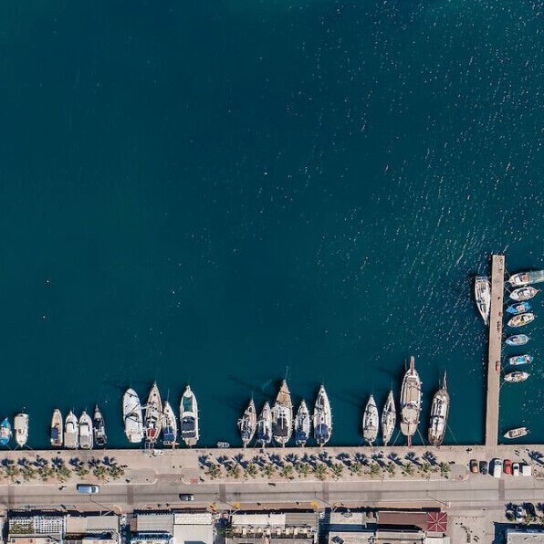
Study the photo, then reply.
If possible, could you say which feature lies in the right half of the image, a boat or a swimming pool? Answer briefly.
boat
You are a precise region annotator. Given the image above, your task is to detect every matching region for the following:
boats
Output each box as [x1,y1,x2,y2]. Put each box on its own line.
[505,334,530,346]
[49,406,65,448]
[155,401,177,448]
[0,416,13,446]
[506,302,531,312]
[506,314,535,327]
[15,413,30,447]
[123,384,144,445]
[136,381,163,447]
[509,355,533,365]
[180,385,200,447]
[294,400,310,447]
[78,411,95,448]
[381,391,397,446]
[510,286,537,301]
[216,441,230,447]
[474,276,490,325]
[504,371,529,382]
[268,379,294,447]
[362,395,379,446]
[92,403,108,447]
[503,428,529,438]
[311,385,332,446]
[504,269,544,286]
[255,401,273,447]
[64,409,79,448]
[238,398,258,447]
